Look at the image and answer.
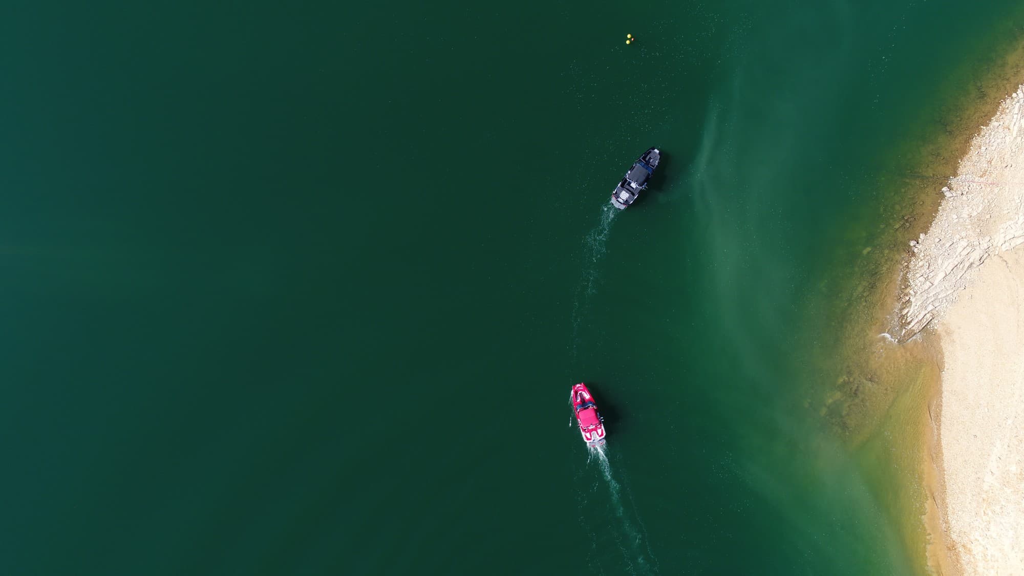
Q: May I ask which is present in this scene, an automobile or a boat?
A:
boat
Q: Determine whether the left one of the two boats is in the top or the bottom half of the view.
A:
bottom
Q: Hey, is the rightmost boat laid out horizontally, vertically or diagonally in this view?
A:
diagonally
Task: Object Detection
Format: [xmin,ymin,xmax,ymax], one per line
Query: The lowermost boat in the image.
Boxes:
[573,382,606,447]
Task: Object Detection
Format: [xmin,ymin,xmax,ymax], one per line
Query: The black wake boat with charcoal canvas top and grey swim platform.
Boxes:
[611,147,659,209]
